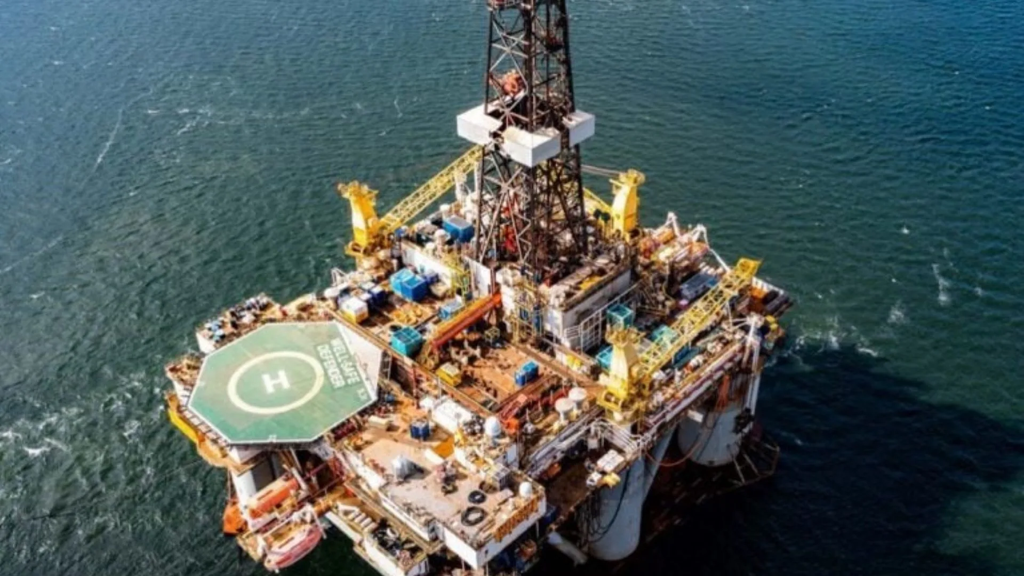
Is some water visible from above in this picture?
Yes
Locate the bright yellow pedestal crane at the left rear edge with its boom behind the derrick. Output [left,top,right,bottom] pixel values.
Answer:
[338,148,493,266]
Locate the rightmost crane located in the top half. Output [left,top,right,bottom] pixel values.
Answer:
[535,151,648,239]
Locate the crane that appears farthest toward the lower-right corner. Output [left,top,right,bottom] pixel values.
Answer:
[591,265,759,439]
